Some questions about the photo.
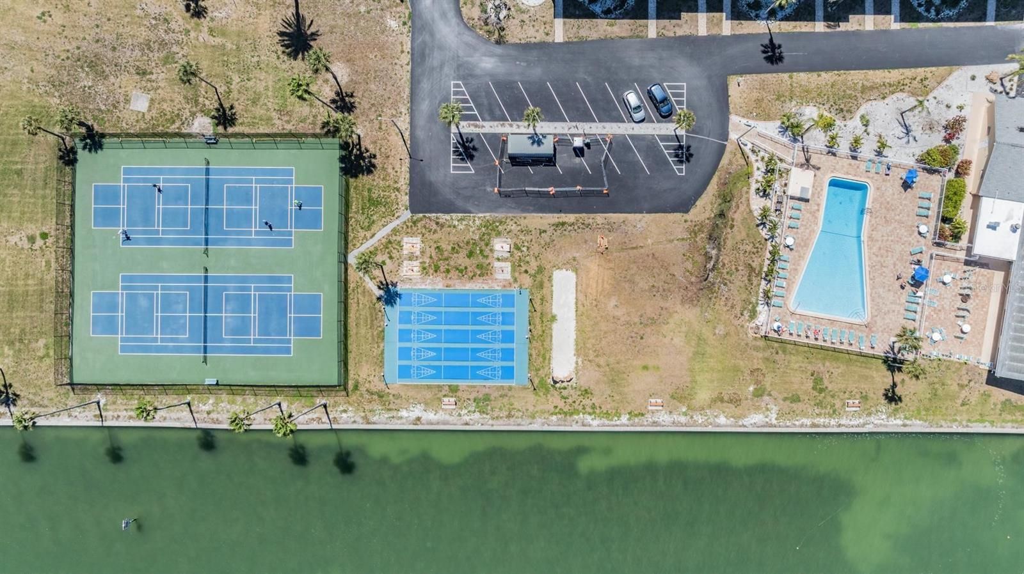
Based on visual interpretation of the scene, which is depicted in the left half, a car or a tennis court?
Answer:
tennis court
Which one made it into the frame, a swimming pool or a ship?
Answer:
swimming pool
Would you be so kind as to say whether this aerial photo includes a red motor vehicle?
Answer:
No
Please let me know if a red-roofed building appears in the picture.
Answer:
No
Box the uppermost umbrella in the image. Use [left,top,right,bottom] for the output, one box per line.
[901,170,920,185]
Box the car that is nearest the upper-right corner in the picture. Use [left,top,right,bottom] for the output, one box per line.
[649,81,672,117]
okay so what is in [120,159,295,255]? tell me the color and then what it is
blue tennis court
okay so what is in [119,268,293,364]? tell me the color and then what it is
blue tennis court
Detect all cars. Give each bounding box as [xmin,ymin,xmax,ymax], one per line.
[649,81,672,117]
[623,87,646,122]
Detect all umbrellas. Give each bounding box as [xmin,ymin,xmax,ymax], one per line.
[901,170,920,185]
[914,265,931,283]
